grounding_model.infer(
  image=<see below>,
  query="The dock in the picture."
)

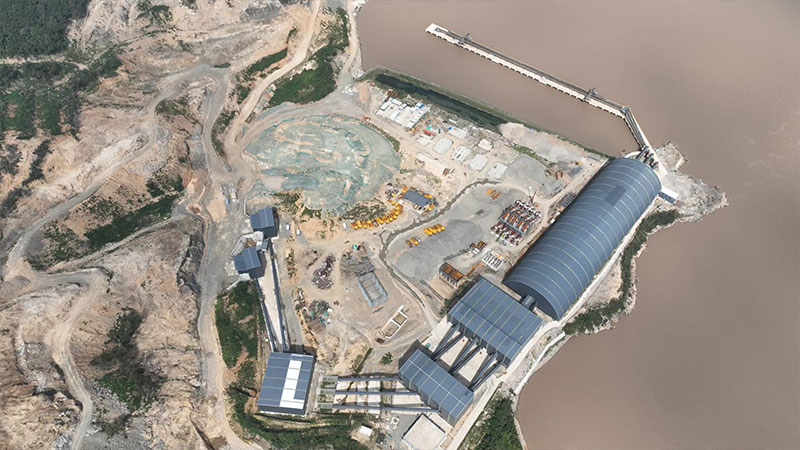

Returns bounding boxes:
[426,23,667,174]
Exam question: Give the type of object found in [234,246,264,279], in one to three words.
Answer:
house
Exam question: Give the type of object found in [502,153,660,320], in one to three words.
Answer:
shed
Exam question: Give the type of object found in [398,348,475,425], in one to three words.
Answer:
building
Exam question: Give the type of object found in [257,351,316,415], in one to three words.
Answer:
building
